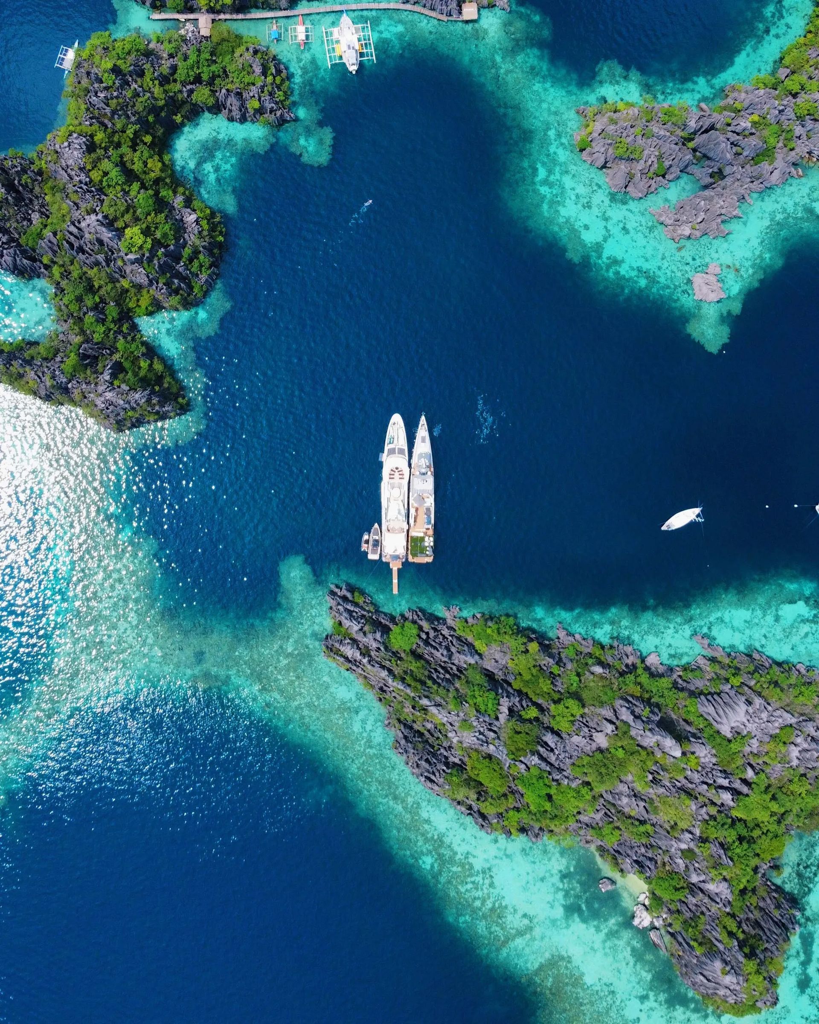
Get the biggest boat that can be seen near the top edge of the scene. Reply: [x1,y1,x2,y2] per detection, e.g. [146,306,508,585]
[322,2,376,74]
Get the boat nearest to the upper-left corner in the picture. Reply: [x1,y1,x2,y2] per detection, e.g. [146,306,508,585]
[54,37,78,77]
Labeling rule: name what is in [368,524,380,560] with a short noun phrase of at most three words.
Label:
boat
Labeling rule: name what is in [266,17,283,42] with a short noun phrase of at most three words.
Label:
boat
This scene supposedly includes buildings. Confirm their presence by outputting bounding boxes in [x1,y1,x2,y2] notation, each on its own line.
[462,3,478,25]
[199,15,212,36]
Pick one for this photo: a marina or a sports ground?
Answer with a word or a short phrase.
marina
